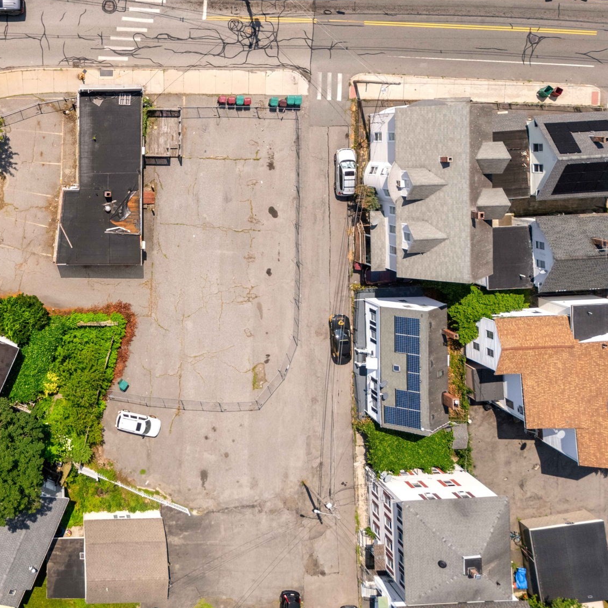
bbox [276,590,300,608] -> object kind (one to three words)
car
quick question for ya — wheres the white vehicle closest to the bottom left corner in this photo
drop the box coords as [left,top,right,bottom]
[113,408,163,440]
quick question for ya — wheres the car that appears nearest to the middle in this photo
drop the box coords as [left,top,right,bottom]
[327,312,354,365]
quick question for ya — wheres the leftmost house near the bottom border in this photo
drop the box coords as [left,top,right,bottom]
[0,474,70,606]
